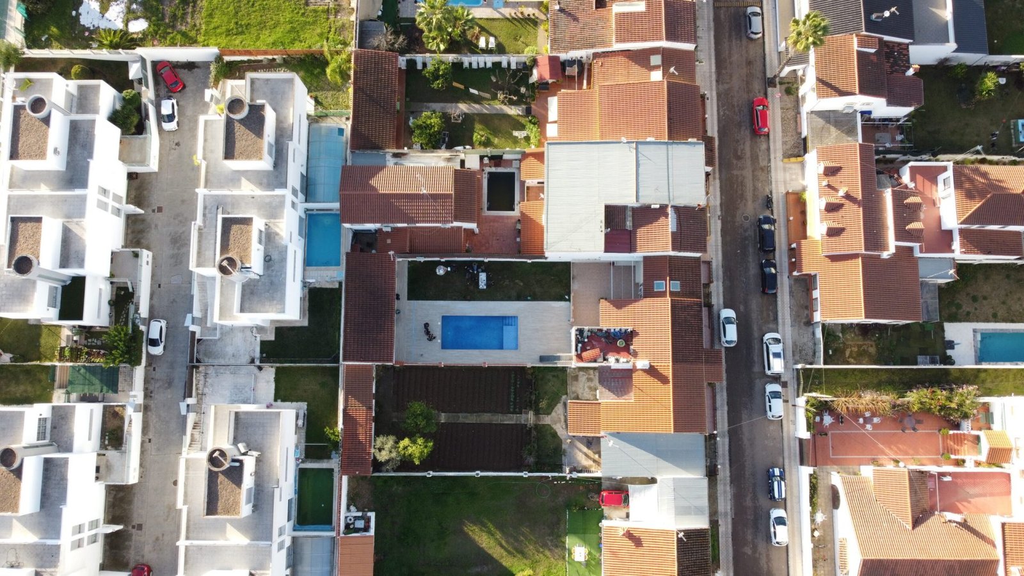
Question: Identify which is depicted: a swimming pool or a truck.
swimming pool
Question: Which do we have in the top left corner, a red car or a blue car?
red car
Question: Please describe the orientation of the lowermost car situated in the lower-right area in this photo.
from top to bottom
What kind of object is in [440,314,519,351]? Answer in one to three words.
swimming pool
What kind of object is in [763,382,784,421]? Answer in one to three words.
car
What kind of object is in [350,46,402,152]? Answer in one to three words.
shed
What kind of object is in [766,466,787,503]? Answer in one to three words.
car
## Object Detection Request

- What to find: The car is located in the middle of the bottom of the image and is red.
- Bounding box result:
[597,489,630,509]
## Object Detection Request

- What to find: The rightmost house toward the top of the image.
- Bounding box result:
[889,161,1024,259]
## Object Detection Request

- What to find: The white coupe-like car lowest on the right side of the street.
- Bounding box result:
[767,505,789,548]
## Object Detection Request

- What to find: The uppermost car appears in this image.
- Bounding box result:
[744,8,764,40]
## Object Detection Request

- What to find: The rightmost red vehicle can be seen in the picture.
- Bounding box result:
[750,98,771,135]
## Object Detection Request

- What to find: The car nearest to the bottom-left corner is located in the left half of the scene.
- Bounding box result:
[130,556,153,576]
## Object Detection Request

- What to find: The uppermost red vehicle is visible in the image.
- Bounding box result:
[158,61,185,94]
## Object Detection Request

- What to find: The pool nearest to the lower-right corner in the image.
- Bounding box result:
[969,327,1024,365]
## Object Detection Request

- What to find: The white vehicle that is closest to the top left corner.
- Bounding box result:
[159,97,180,131]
